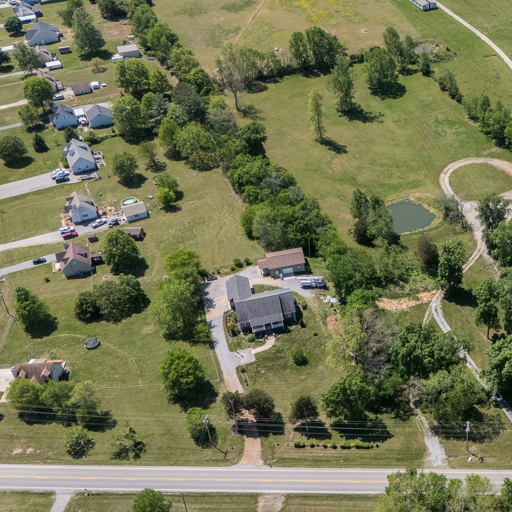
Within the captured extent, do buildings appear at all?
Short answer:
Yes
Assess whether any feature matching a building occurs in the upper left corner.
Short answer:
Yes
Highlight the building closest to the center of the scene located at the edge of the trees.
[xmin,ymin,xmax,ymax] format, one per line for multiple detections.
[255,249,306,278]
